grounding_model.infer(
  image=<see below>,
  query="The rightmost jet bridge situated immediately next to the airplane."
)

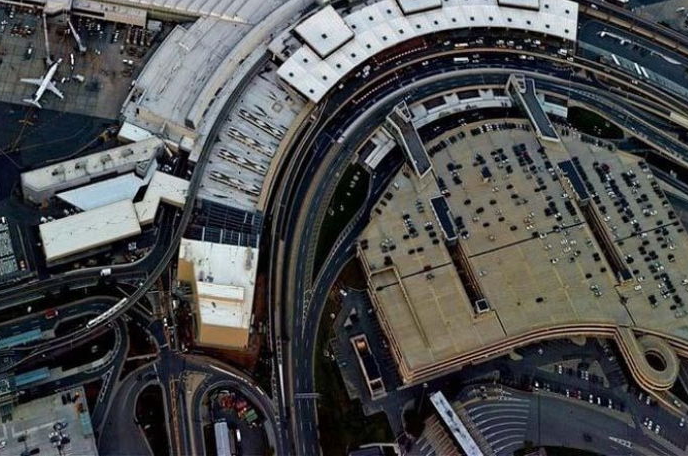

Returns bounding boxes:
[65,10,89,53]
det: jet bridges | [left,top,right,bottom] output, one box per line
[41,10,55,65]
[65,10,89,53]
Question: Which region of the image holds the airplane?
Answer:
top left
